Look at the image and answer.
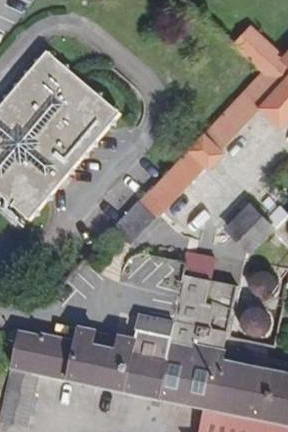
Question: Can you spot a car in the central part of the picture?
Yes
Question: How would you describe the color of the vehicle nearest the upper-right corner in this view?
white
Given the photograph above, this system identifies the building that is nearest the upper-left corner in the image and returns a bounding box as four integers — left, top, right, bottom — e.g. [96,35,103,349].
[0,51,125,223]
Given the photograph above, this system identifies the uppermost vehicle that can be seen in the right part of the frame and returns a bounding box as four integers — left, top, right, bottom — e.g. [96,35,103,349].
[228,136,248,156]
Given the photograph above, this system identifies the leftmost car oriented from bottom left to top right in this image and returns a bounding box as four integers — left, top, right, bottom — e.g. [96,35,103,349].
[172,194,189,214]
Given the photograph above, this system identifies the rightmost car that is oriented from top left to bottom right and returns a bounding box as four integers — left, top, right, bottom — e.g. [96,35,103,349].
[140,157,158,176]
